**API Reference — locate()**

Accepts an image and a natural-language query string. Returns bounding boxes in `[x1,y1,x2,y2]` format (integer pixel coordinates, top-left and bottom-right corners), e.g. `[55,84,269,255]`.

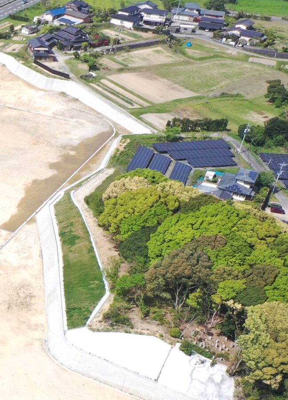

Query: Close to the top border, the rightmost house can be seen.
[226,19,266,41]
